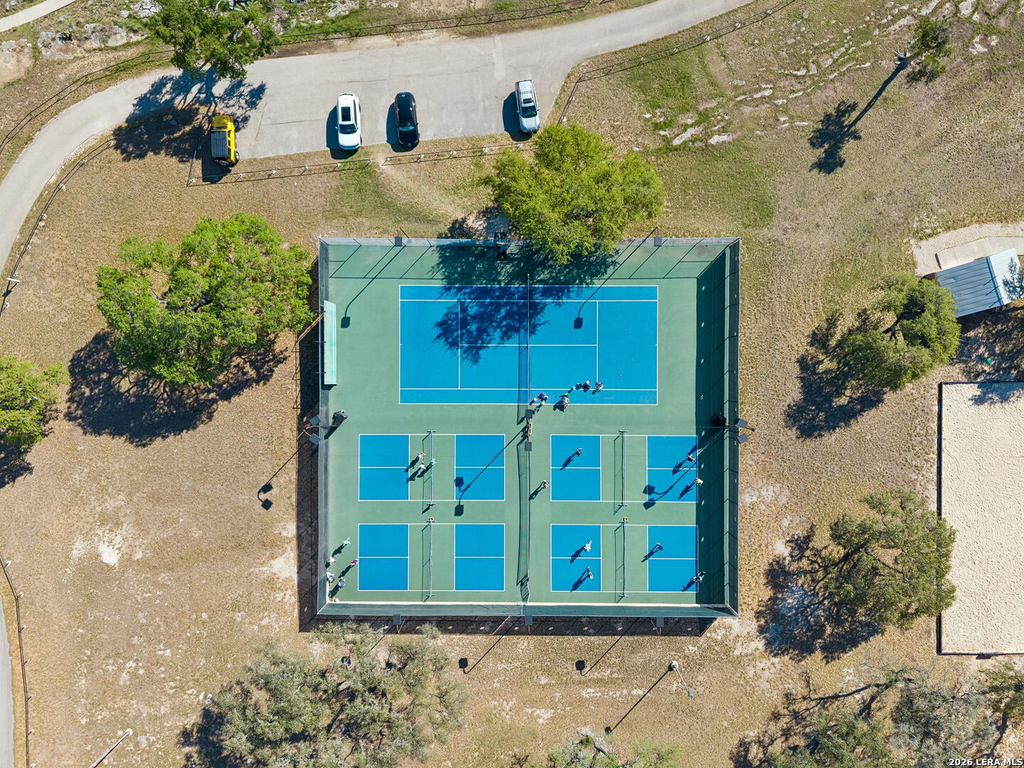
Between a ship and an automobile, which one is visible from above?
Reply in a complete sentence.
Looking from above, you can make out an automobile.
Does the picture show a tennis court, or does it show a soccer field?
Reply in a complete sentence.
Looking from above, you can make out a tennis court.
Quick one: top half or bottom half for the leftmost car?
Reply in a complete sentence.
The top half of the photo is where the leftmost car is.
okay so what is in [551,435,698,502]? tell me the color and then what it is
blue sports court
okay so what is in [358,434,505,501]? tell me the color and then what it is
blue sports court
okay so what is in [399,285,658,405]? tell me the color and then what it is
blue tennis court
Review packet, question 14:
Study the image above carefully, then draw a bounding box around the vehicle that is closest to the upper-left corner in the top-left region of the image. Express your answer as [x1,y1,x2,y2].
[211,120,240,169]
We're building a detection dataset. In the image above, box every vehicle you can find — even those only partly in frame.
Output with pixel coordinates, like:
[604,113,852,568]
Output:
[211,120,240,169]
[516,82,542,137]
[397,93,421,147]
[338,94,363,149]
